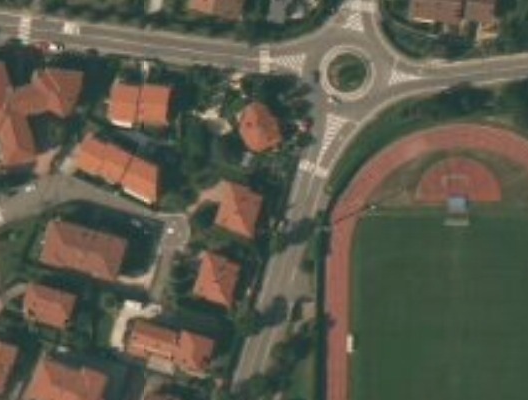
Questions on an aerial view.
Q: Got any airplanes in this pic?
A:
No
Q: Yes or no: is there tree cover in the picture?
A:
Yes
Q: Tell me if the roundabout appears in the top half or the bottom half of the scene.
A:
top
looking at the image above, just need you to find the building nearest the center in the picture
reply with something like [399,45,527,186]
[215,180,263,240]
